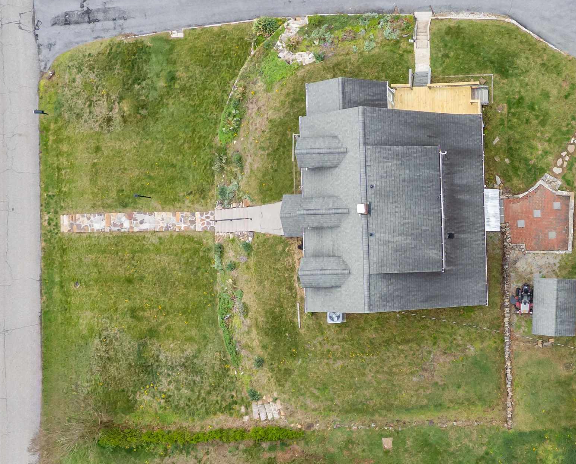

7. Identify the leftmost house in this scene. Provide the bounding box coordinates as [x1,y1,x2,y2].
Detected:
[279,77,501,315]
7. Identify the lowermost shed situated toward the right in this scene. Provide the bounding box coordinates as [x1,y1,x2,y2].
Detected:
[532,278,576,337]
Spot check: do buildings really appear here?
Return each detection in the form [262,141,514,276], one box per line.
[532,278,576,337]
[279,77,501,315]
